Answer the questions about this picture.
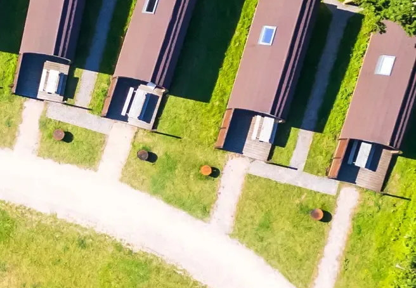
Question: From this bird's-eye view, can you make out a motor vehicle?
No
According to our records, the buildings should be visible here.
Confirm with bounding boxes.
[100,0,197,129]
[212,0,321,161]
[9,0,86,103]
[323,19,416,193]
